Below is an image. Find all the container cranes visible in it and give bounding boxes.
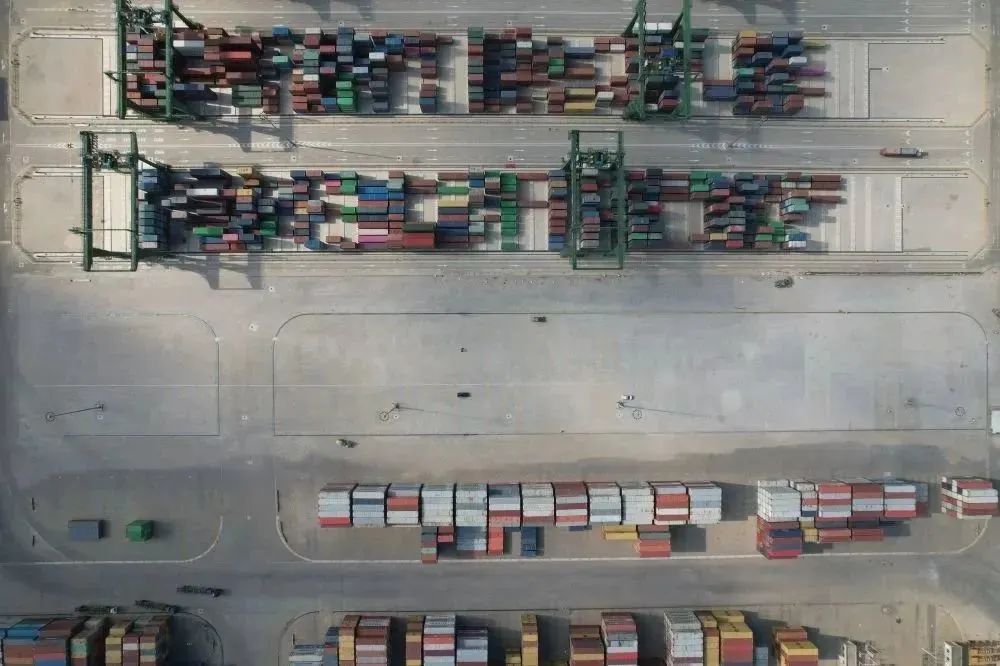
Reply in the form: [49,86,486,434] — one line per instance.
[619,0,694,123]
[63,131,174,272]
[554,131,629,270]
[96,0,206,123]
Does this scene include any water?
No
